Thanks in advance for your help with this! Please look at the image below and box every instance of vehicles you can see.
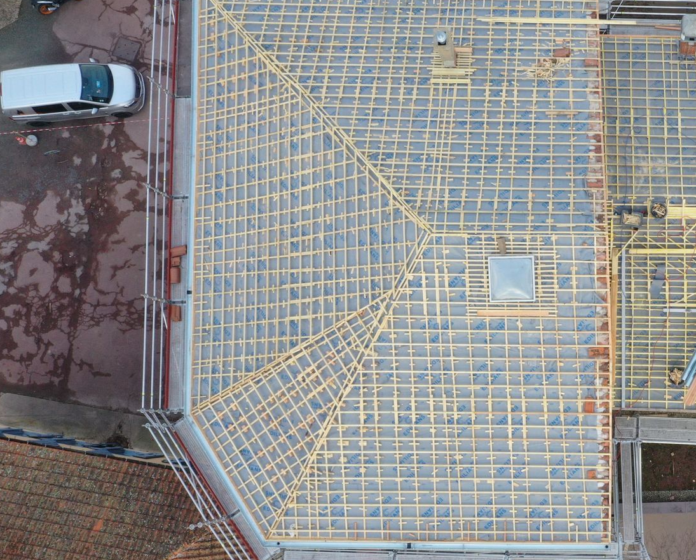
[30,0,67,15]
[0,57,155,127]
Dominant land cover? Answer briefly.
buildings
